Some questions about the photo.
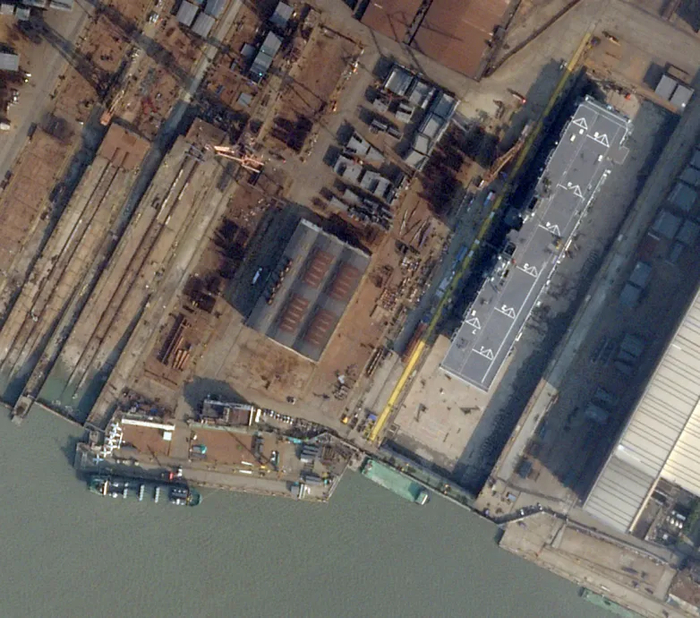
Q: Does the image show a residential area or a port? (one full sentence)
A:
It's a port.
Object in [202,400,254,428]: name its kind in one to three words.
building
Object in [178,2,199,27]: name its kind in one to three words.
shed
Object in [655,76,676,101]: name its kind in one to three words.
shed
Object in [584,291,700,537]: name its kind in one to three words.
building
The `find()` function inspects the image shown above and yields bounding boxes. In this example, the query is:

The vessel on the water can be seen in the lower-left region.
[88,479,201,507]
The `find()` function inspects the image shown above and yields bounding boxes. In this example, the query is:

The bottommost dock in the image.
[500,512,700,618]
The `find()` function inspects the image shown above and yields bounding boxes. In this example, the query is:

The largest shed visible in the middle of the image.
[245,218,375,364]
